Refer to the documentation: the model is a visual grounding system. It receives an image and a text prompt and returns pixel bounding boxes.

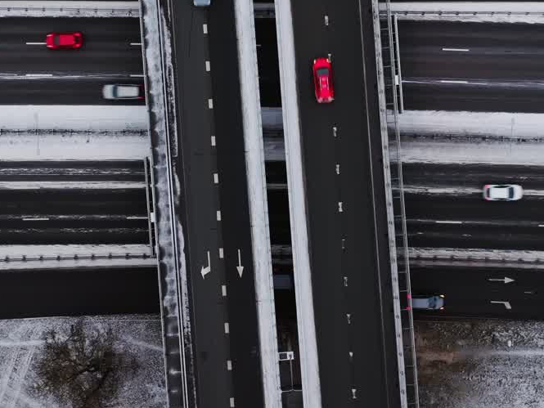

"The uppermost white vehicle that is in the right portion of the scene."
[483,183,523,202]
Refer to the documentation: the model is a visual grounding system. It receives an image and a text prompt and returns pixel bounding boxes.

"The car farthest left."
[45,31,82,50]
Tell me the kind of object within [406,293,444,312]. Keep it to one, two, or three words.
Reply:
car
